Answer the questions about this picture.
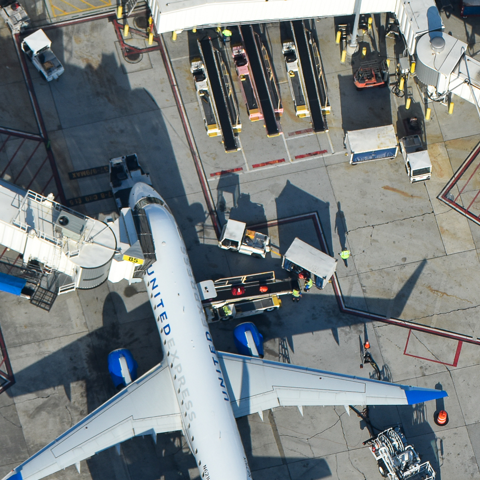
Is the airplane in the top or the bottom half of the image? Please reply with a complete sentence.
The airplane sits in the bottom half of the picture.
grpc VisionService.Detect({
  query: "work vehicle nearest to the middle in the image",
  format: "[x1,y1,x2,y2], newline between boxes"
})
[214,221,273,265]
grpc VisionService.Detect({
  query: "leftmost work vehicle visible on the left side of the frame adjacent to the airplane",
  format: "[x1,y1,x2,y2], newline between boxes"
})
[106,152,149,209]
